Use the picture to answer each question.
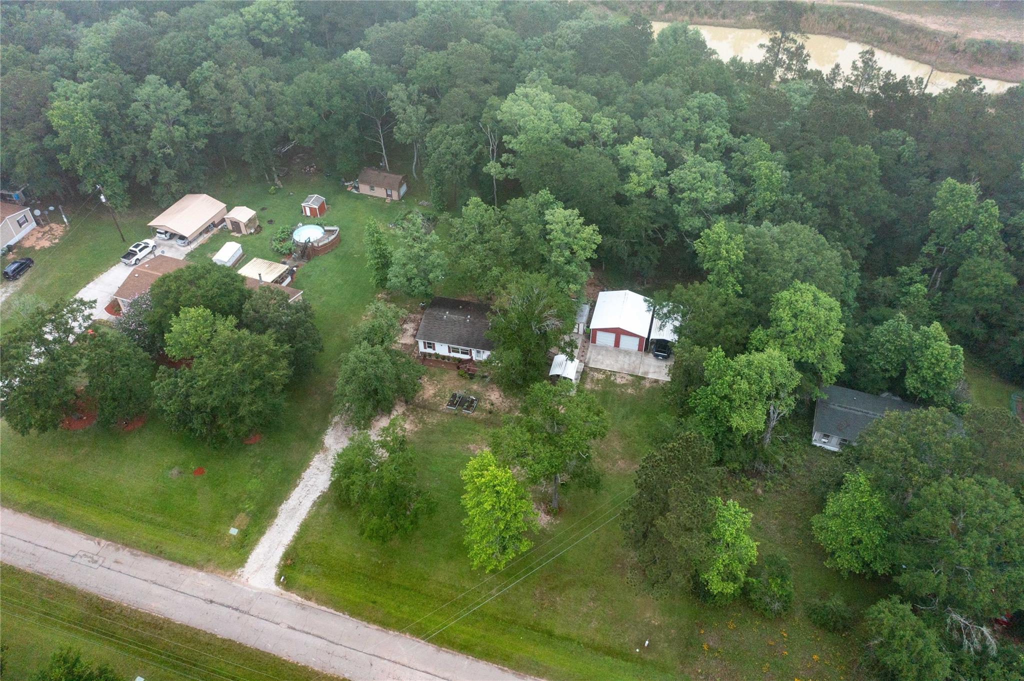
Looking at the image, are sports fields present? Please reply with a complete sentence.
No, the picture doesn't show any sports field.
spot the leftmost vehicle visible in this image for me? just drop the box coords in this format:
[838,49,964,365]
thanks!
[0,258,32,279]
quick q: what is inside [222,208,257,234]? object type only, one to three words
shed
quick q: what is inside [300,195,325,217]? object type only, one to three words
shed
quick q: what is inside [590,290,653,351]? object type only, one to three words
building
